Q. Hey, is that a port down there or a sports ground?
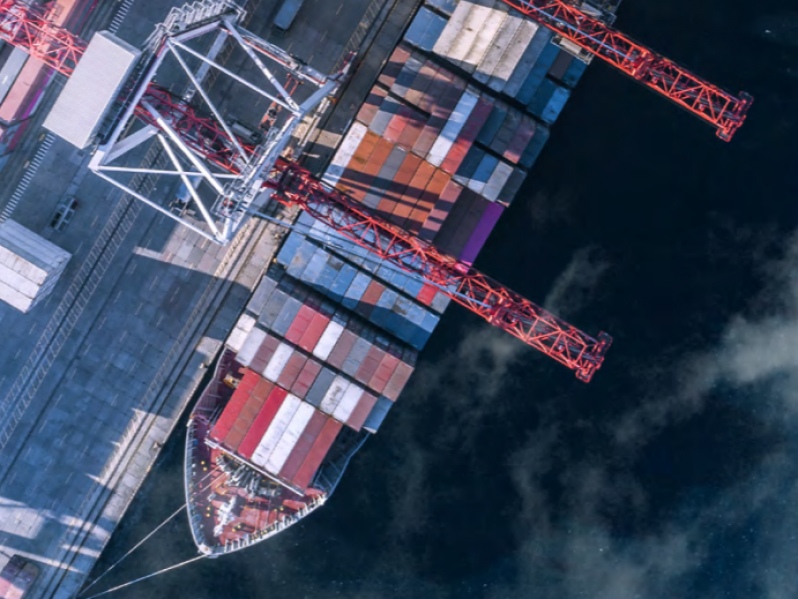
port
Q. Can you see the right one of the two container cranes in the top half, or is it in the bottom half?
top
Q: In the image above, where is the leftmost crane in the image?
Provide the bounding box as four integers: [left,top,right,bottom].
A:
[0,0,613,377]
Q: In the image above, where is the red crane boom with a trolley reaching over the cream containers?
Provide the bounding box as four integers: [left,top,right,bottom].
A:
[495,0,747,139]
